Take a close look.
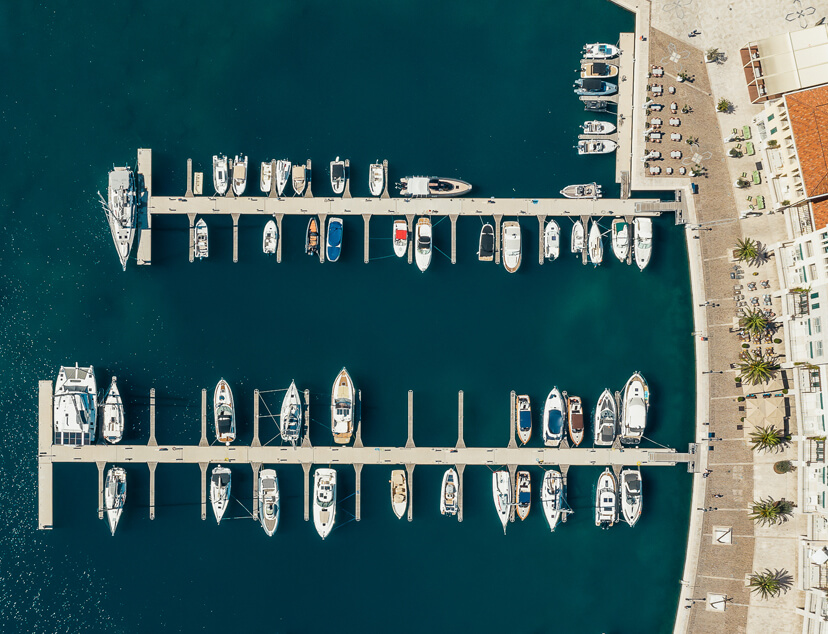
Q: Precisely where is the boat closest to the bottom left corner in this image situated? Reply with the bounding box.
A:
[99,468,127,536]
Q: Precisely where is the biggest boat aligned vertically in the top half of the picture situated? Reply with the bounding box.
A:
[97,163,137,271]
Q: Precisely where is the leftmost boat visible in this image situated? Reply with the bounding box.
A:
[52,363,97,446]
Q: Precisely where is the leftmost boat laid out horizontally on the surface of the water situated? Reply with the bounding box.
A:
[392,175,471,197]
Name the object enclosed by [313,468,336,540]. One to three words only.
boat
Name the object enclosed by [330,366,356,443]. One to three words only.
boat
